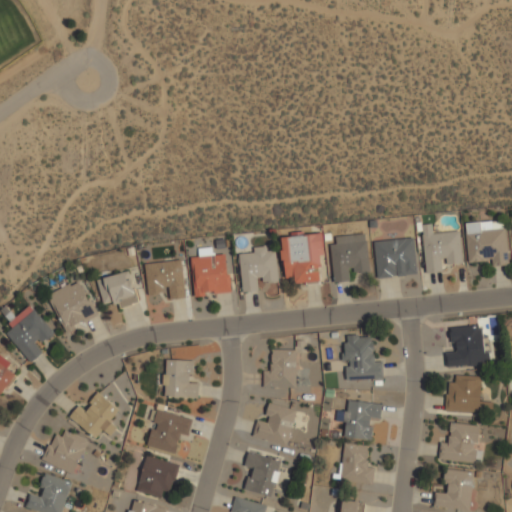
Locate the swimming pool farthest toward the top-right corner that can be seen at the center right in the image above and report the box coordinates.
[440,216,460,230]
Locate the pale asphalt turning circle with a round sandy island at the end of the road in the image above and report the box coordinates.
[58,50,118,110]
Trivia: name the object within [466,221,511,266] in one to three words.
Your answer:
house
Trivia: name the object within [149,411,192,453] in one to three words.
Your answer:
house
